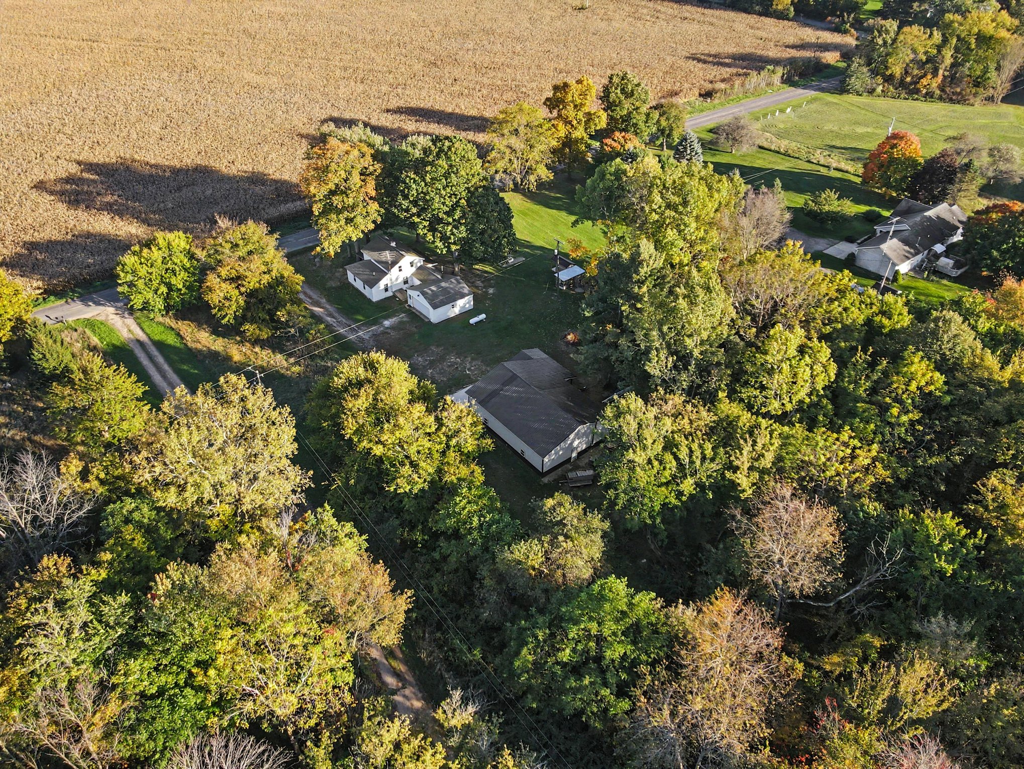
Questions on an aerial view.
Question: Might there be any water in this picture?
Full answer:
No, water can't be seen anywhere here.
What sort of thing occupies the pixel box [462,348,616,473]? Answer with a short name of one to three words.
barn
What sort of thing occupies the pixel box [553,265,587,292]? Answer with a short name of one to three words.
shed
